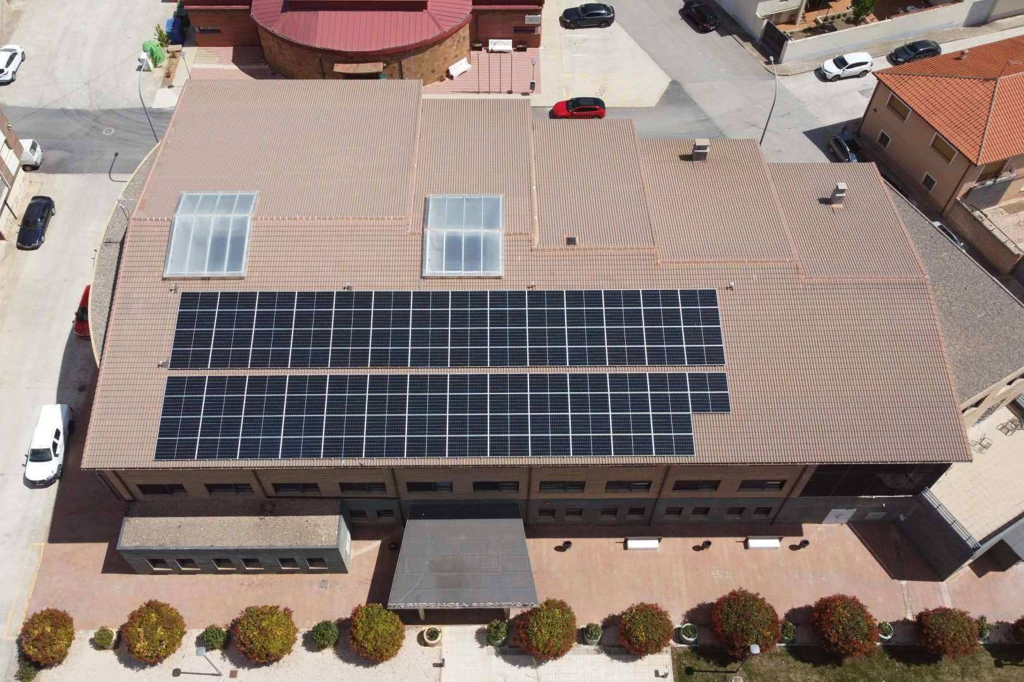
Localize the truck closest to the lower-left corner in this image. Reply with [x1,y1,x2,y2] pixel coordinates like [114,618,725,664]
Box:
[21,410,73,496]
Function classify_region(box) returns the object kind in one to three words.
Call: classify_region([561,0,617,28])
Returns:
car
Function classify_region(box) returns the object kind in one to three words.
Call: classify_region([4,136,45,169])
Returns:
van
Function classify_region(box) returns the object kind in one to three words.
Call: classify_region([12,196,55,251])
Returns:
car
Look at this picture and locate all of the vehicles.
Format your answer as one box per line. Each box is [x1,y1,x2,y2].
[885,34,941,62]
[681,3,722,41]
[21,410,73,496]
[561,0,617,28]
[818,49,878,82]
[12,196,55,251]
[4,136,45,169]
[553,90,608,118]
[75,285,94,337]
[819,126,870,163]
